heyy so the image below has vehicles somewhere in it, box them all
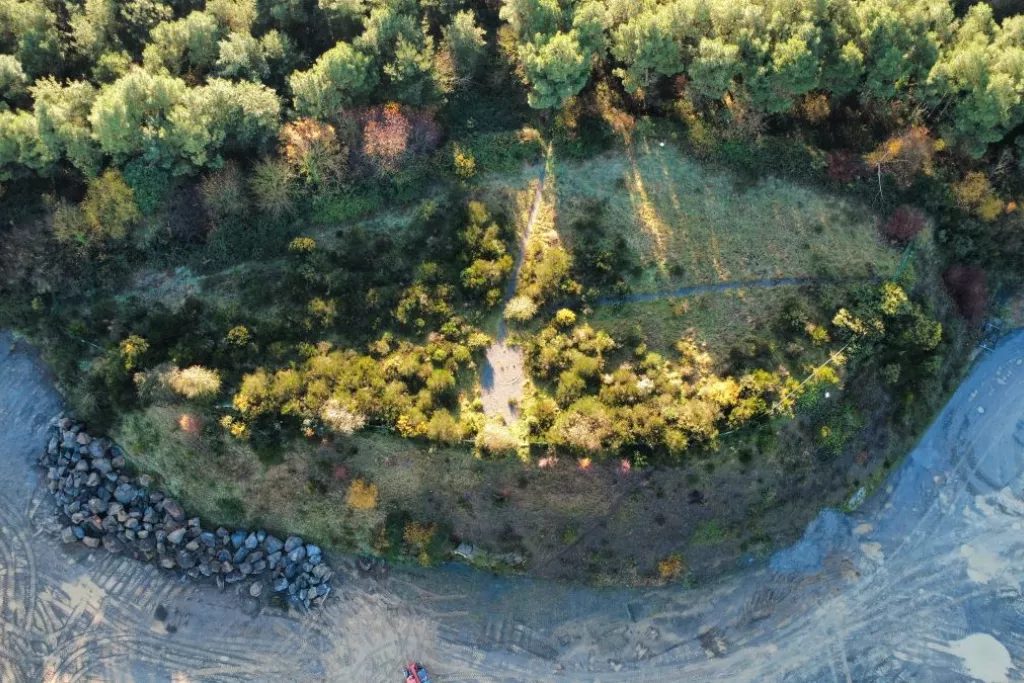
[404,660,428,683]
